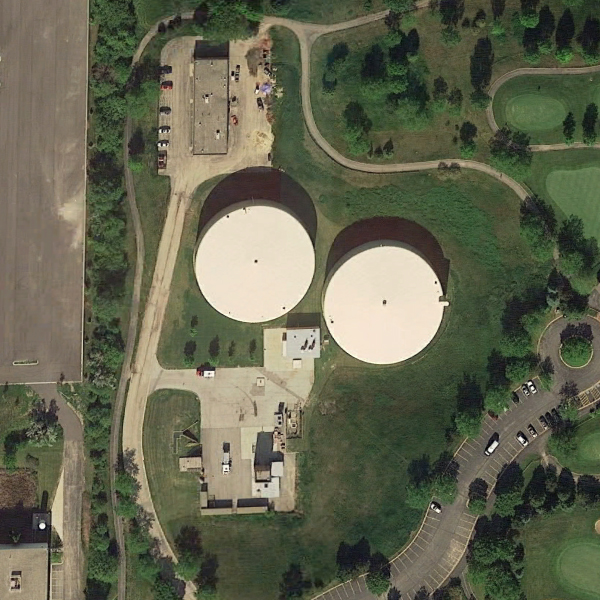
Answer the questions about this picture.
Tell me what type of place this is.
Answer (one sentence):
The area seen from above is an industrial area.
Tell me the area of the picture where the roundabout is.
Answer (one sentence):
You can find the roundabout in the right area of the picture.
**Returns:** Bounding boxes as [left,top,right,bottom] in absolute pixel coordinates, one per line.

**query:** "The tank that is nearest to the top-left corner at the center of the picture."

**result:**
[194,196,317,323]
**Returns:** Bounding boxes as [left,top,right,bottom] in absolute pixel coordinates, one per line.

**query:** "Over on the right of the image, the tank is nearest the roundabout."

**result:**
[322,238,450,364]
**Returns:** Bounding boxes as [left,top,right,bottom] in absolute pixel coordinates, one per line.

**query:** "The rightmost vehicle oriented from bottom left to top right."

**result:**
[485,437,500,454]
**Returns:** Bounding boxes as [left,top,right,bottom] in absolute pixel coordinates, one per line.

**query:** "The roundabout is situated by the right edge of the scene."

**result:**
[537,309,600,384]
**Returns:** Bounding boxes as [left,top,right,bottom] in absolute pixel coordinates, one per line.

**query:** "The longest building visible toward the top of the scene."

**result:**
[193,56,229,154]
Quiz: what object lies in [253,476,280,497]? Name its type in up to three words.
building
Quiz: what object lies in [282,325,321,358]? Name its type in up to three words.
building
